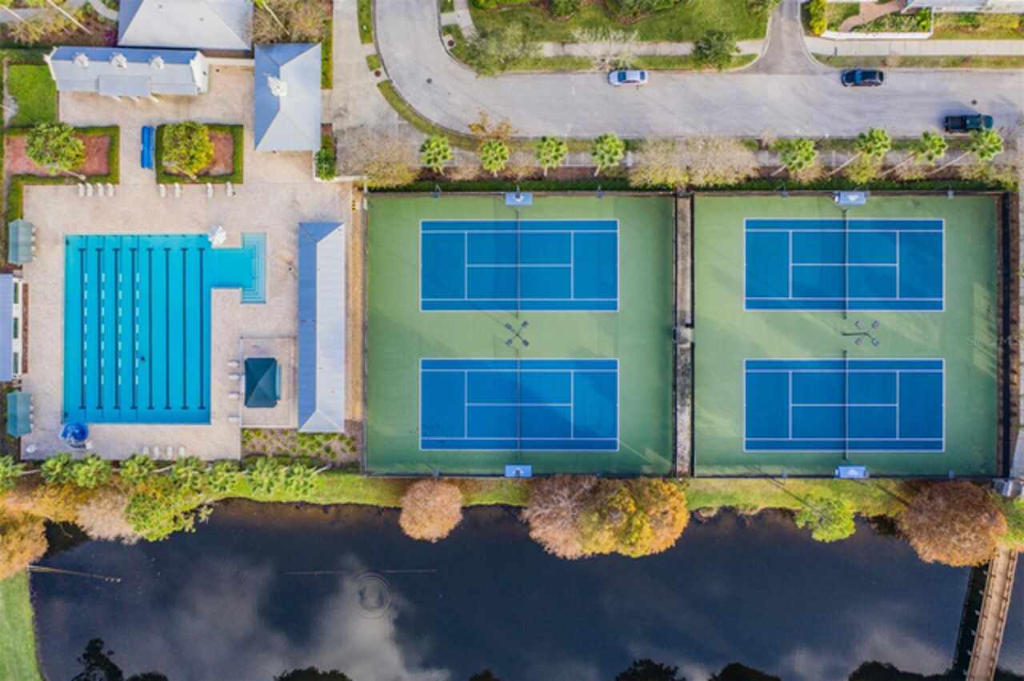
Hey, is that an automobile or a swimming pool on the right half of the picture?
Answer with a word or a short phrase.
automobile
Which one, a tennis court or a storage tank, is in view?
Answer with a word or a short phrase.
tennis court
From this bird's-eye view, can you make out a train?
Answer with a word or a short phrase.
No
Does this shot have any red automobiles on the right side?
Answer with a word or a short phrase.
No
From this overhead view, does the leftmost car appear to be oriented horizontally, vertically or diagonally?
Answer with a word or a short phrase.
horizontally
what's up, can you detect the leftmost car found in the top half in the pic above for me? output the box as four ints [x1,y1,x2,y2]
[609,65,648,85]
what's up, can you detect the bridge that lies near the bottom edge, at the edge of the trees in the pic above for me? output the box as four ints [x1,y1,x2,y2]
[951,536,1022,681]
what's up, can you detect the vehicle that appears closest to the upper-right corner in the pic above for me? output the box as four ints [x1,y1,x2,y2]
[946,111,996,132]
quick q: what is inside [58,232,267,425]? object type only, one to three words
swimming pool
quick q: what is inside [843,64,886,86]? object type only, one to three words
car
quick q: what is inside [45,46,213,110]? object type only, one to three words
building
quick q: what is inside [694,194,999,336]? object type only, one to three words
tennis court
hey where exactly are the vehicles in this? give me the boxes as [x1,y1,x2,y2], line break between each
[946,111,996,132]
[843,64,886,86]
[609,65,648,85]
